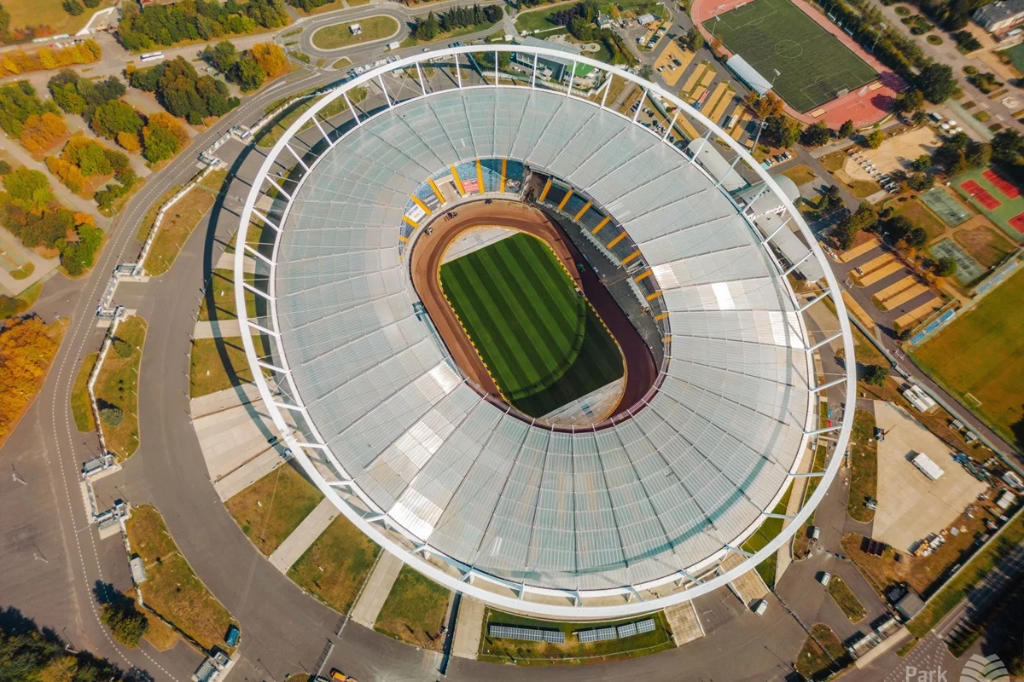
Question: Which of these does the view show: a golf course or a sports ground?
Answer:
sports ground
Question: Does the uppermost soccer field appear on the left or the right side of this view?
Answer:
right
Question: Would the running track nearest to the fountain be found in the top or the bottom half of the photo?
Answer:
top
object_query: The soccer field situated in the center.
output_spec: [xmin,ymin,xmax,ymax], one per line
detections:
[441,226,625,429]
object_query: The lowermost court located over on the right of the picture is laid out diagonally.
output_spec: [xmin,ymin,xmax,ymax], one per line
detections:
[930,239,986,282]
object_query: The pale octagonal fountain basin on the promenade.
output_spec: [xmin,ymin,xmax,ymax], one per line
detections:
[999,94,1022,110]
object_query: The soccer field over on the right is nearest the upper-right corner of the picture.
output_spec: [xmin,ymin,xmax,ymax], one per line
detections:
[701,0,881,113]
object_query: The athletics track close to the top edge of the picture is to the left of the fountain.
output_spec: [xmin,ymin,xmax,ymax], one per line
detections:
[687,0,907,129]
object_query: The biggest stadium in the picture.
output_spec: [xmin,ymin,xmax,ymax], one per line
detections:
[234,45,858,618]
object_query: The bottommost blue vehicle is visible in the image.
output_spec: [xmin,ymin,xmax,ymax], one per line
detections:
[223,624,239,648]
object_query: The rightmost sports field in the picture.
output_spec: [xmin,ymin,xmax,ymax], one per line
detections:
[917,271,1024,429]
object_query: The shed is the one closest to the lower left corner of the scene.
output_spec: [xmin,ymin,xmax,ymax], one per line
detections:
[130,557,150,584]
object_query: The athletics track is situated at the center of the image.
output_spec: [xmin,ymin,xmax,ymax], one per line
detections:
[410,197,662,446]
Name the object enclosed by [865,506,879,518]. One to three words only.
vehicle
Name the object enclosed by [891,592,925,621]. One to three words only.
building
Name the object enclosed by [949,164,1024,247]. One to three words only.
tennis court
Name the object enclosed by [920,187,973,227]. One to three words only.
tennis court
